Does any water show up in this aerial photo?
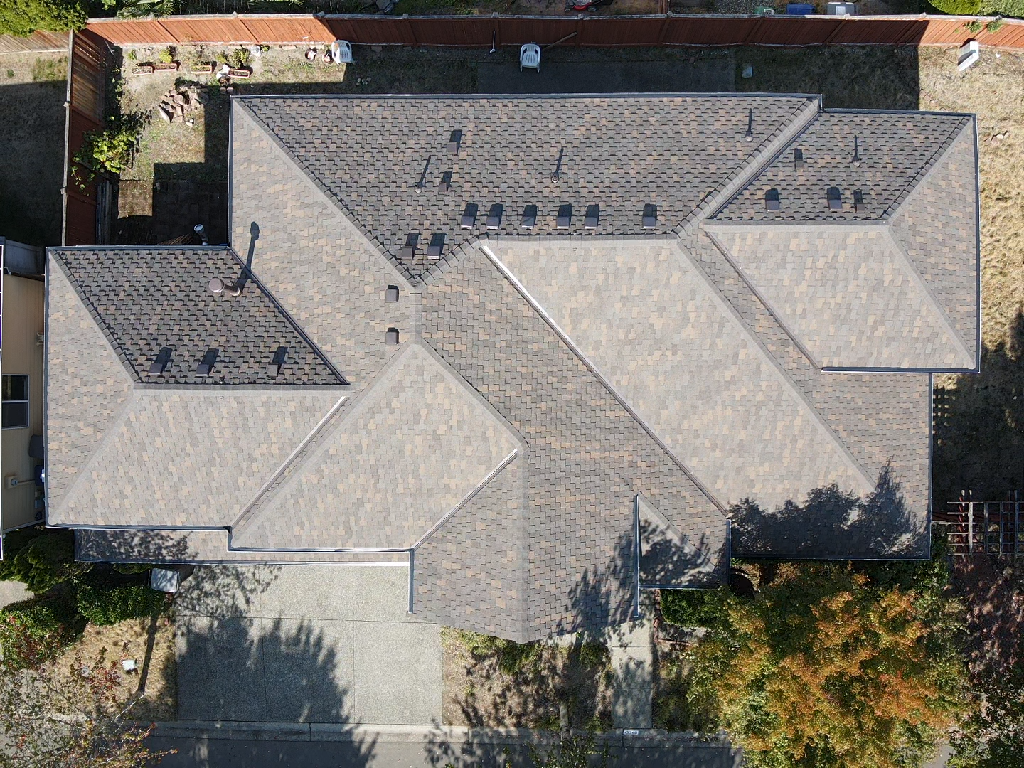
No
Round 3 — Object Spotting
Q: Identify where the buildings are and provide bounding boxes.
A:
[0,246,44,564]
[42,94,980,646]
